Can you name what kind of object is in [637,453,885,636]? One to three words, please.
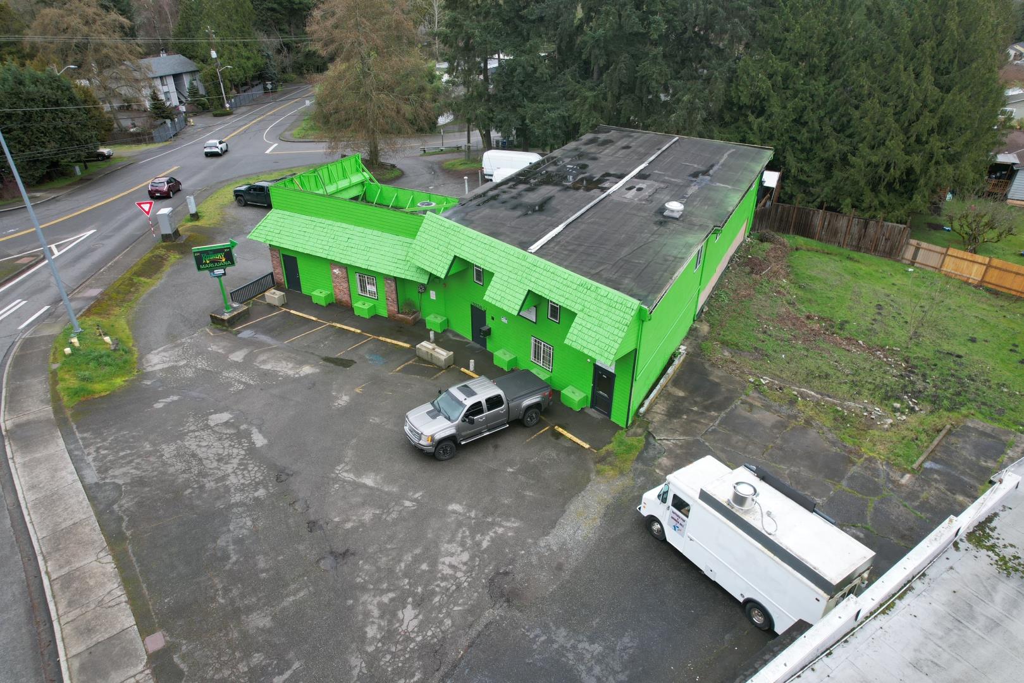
truck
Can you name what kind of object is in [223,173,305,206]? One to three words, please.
truck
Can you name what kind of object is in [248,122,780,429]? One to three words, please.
building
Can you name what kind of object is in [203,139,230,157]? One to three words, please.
car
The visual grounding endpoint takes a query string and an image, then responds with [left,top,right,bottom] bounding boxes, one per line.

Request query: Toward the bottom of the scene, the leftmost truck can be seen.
[398,367,558,459]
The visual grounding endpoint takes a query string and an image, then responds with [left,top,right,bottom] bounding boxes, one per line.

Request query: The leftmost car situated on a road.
[145,175,180,200]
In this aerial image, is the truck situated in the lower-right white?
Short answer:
Yes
